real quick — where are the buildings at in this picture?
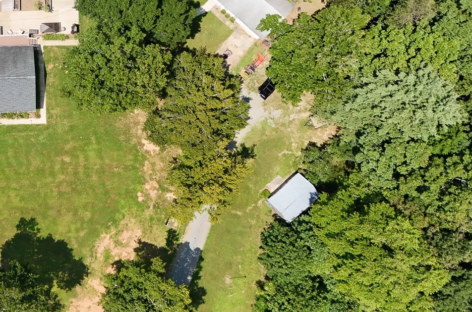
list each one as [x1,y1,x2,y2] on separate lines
[205,0,297,40]
[262,171,319,224]
[0,42,36,112]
